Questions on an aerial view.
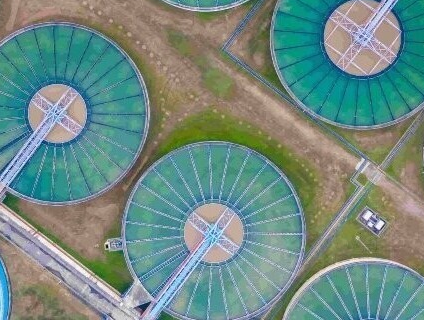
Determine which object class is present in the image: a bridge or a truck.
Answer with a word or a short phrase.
bridge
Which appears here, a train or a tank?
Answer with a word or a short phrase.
tank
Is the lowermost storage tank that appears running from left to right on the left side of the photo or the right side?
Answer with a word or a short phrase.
right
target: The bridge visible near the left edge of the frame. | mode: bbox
[0,111,59,200]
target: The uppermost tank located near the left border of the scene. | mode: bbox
[0,20,150,206]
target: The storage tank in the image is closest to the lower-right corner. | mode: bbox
[281,258,424,320]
